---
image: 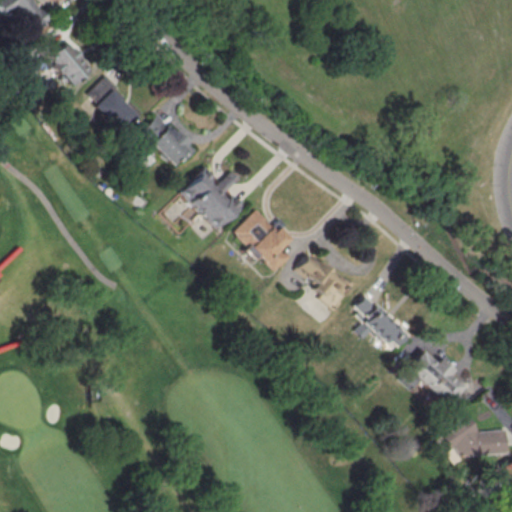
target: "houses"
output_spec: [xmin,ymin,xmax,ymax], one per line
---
[84,76,138,129]
[294,256,353,306]
[448,423,512,460]
[413,350,473,399]
[52,40,96,90]
[232,209,296,272]
[353,298,413,352]
[177,166,244,230]
[0,0,45,22]
[148,116,196,166]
